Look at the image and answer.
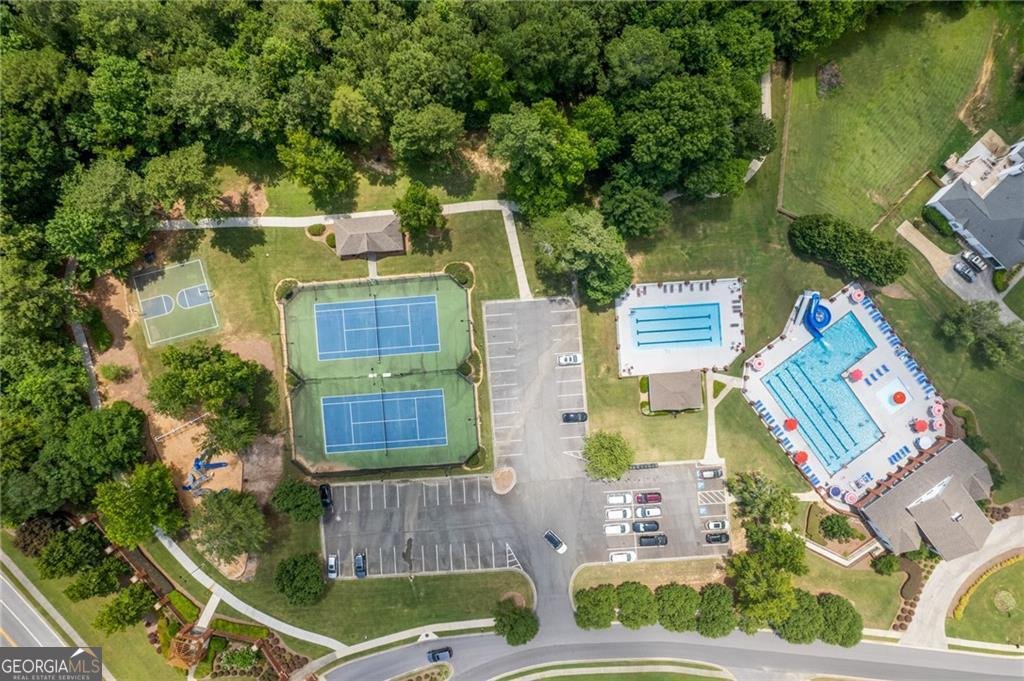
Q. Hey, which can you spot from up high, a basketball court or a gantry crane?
basketball court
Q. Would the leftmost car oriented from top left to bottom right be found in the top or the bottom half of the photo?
bottom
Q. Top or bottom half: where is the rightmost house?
top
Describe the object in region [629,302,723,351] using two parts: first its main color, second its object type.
blue swimming pool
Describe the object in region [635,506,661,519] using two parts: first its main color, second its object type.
white vehicle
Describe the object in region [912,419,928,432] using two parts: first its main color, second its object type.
red umbrella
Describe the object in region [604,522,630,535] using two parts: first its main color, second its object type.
white vehicle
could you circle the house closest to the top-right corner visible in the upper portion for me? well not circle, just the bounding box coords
[929,163,1024,268]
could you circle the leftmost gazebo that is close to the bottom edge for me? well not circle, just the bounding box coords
[177,612,225,660]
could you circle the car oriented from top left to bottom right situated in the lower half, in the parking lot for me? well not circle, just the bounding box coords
[543,530,567,553]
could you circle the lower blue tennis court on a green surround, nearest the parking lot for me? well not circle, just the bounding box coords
[291,371,478,473]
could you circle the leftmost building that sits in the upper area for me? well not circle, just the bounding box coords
[334,215,404,256]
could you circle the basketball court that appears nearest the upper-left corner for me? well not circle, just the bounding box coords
[130,256,223,348]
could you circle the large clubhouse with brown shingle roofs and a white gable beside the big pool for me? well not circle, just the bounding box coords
[854,439,993,561]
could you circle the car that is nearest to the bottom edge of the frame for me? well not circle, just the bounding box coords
[426,646,452,661]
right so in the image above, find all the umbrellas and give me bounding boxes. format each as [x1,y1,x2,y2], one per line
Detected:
[753,358,765,369]
[916,436,932,449]
[843,491,857,505]
[849,369,862,381]
[794,450,808,463]
[929,404,944,416]
[850,289,864,301]
[828,485,841,497]
[930,419,945,431]
[912,419,928,432]
[783,418,797,431]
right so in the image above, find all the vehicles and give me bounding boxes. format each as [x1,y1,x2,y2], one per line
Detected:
[320,483,333,508]
[635,492,662,504]
[606,507,632,519]
[609,550,635,563]
[954,261,978,282]
[562,411,587,423]
[705,532,729,544]
[607,493,633,505]
[327,554,338,578]
[704,519,729,530]
[633,520,659,532]
[604,522,630,535]
[543,530,567,553]
[426,646,452,661]
[638,534,667,547]
[961,251,988,274]
[698,467,723,479]
[354,552,366,577]
[635,506,661,519]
